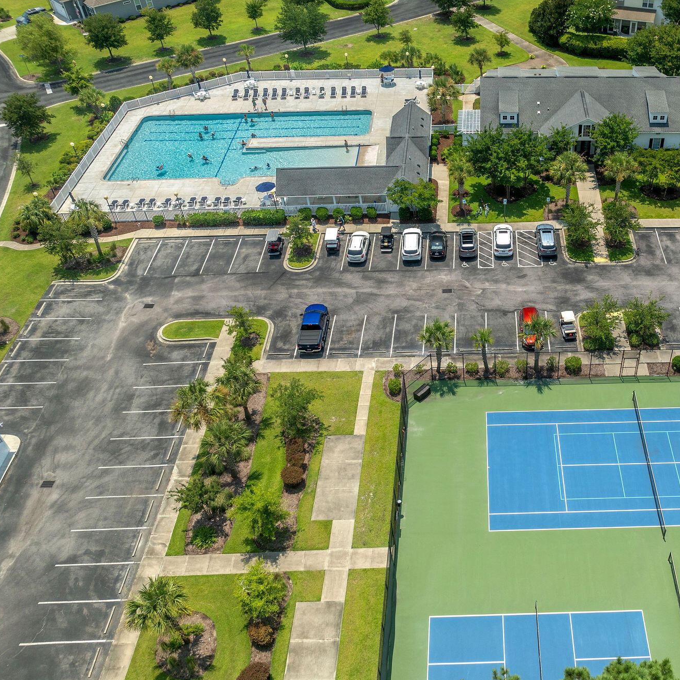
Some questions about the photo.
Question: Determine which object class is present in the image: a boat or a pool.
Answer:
pool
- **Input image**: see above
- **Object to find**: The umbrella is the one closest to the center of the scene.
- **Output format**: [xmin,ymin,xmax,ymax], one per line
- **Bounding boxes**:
[249,178,276,194]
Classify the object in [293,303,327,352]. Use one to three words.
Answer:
truck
